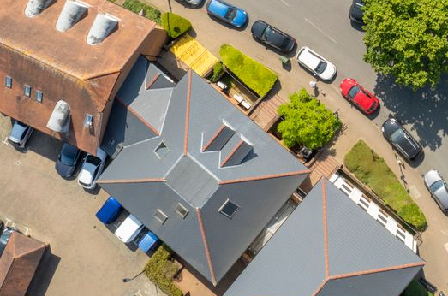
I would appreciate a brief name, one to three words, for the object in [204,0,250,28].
car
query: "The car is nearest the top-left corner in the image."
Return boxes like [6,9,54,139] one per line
[5,119,34,148]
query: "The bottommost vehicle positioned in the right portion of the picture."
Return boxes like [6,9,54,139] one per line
[422,168,448,218]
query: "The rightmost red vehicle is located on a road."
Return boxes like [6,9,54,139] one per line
[339,77,382,116]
